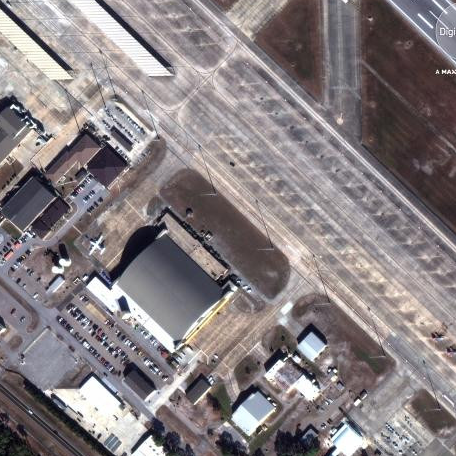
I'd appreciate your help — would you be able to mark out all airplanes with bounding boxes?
[88,234,104,256]
[430,333,445,345]
[445,347,456,359]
